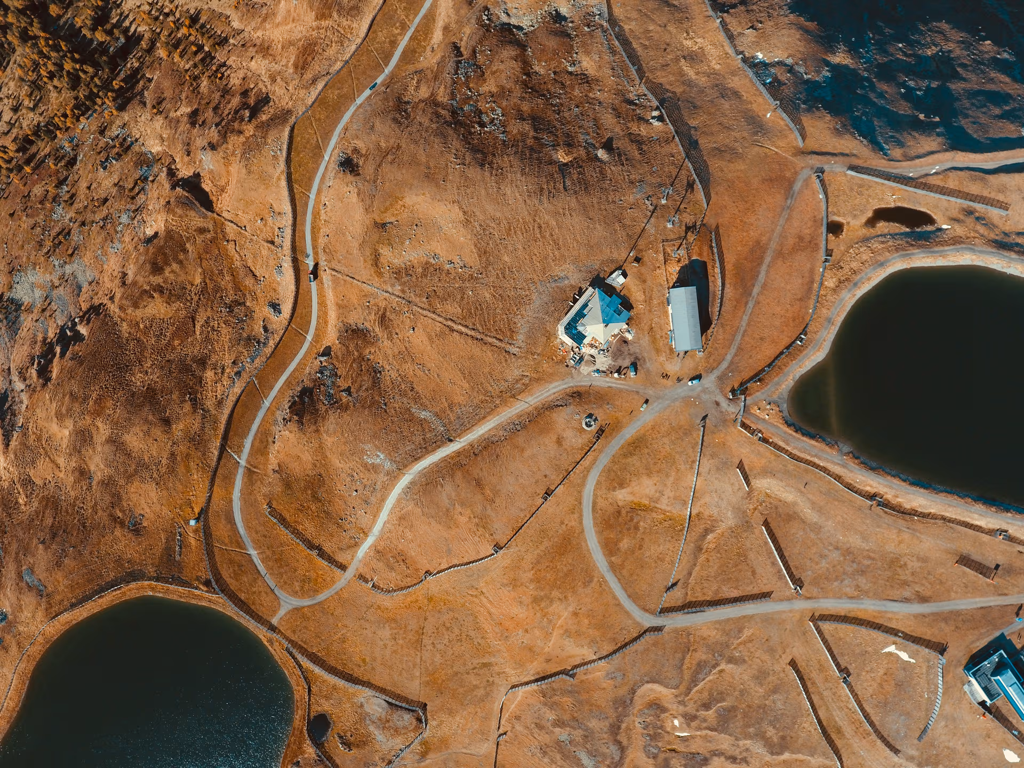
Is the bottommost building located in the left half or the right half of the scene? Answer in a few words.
right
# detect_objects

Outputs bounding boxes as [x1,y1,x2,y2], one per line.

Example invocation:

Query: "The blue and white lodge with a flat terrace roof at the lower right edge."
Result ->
[958,645,1024,736]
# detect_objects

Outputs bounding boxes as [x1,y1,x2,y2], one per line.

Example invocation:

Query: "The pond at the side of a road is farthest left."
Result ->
[0,594,294,768]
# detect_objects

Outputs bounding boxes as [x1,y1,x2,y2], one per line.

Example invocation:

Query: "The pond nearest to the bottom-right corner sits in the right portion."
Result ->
[787,266,1024,512]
